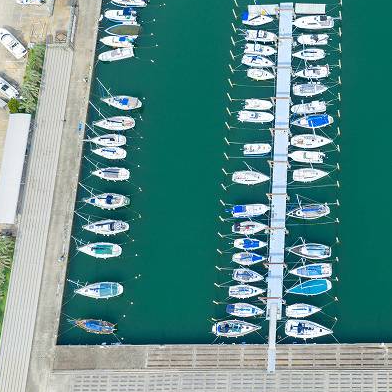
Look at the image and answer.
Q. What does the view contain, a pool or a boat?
boat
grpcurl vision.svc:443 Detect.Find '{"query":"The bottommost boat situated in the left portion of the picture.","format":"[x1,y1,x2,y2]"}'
[57,312,121,337]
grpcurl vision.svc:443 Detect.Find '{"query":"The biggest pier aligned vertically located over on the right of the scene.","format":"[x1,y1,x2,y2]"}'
[263,3,297,319]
